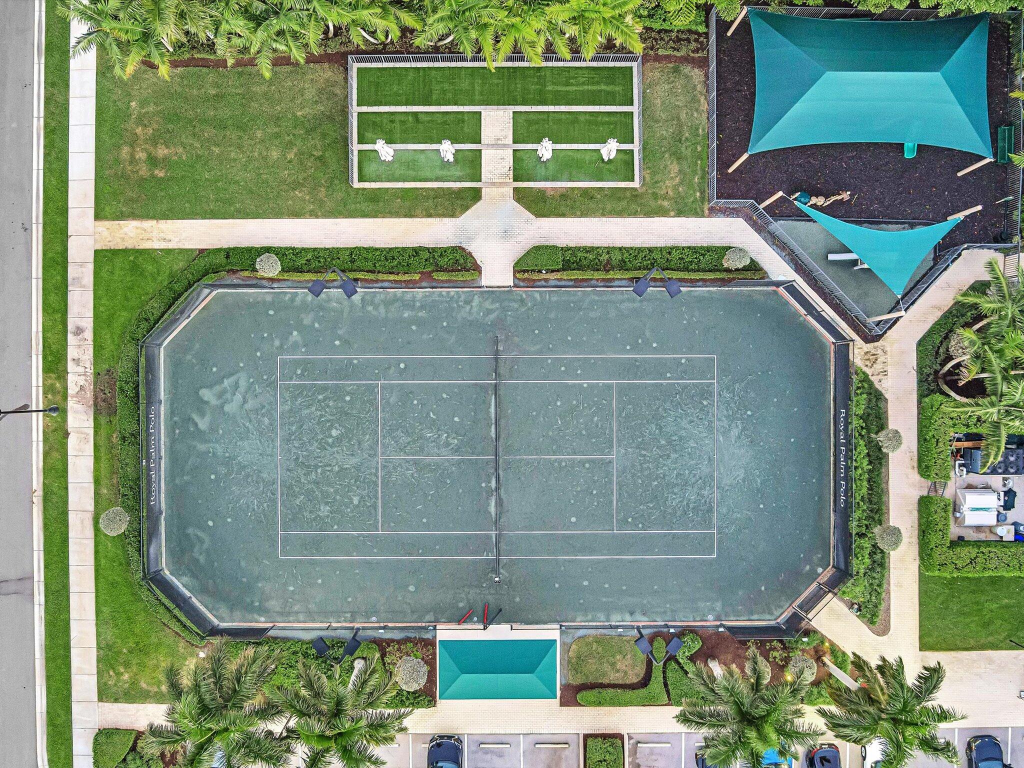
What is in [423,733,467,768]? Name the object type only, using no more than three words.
car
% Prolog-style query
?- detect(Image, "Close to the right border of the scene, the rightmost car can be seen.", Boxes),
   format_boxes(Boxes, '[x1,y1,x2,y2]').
[965,733,1015,768]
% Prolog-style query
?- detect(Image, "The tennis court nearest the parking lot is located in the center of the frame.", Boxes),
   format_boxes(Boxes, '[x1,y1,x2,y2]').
[160,286,833,626]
